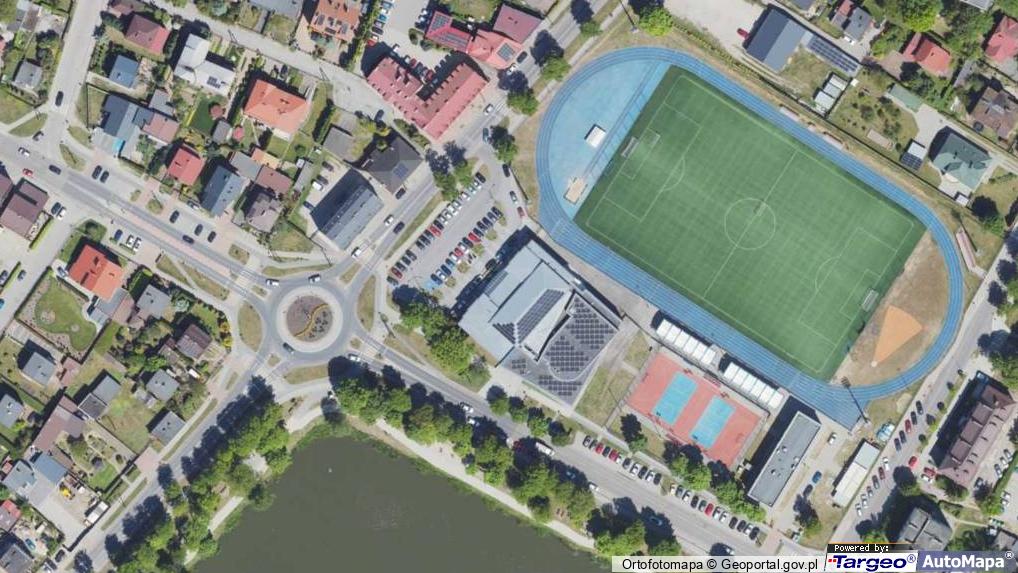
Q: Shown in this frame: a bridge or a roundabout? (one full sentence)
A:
Of the two, only a roundabout appears.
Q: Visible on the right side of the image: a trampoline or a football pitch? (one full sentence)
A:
It is a football pitch that can be seen on the right side of the image.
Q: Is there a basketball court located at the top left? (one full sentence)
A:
No, no basketball court appears at the top left.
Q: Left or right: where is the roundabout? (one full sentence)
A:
It is on the left.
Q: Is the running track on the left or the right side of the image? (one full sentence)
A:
The running track sits on the right side.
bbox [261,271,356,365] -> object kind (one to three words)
roundabout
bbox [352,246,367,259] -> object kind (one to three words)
vehicle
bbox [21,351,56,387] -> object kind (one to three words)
house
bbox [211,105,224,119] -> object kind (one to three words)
gazebo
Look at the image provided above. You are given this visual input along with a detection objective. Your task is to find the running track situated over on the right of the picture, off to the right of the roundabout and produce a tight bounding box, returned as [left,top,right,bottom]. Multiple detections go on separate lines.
[535,46,961,431]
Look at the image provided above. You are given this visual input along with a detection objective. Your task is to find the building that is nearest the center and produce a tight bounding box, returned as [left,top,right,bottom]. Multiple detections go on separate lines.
[459,240,623,407]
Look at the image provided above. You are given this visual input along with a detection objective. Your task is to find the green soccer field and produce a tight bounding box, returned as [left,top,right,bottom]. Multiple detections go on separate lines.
[573,65,927,381]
